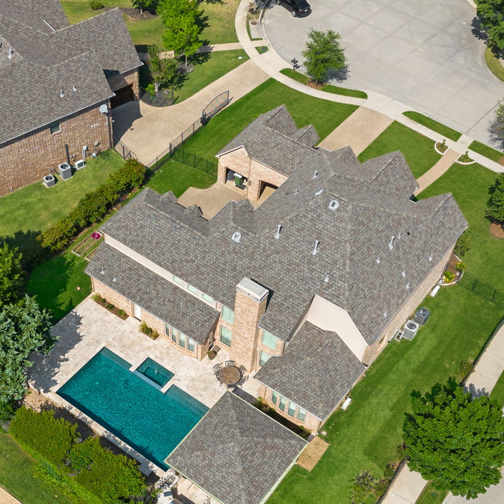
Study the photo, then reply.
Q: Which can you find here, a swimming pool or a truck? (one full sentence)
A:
The one in the frame is a swimming pool.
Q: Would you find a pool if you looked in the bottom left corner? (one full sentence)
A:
Yes, there is a pool in the bottom left corner.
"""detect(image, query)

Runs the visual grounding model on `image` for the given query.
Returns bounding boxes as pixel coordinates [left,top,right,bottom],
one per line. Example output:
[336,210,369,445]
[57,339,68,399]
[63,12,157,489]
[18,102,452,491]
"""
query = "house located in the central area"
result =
[84,104,469,437]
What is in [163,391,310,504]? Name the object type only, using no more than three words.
building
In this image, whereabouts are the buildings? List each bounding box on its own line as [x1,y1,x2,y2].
[0,0,144,194]
[163,391,310,504]
[84,104,469,437]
